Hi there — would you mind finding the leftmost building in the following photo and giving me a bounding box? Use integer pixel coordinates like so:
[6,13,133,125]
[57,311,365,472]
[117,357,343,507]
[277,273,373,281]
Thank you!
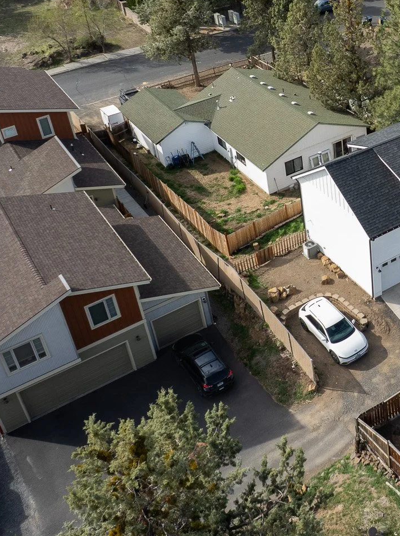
[0,69,224,434]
